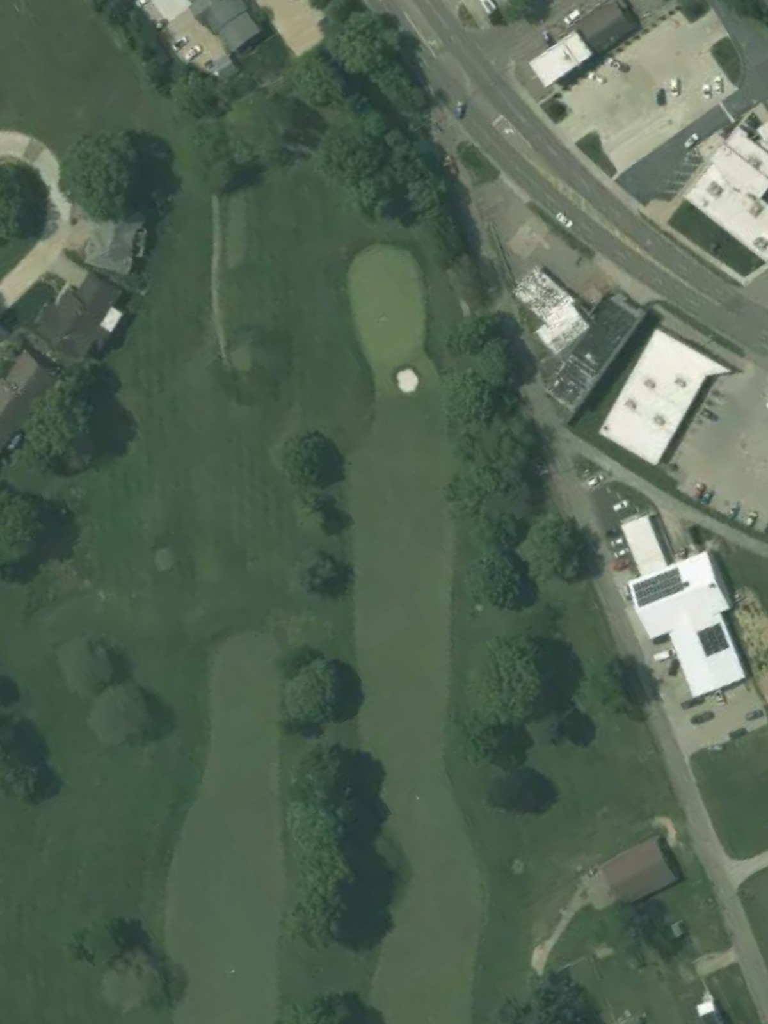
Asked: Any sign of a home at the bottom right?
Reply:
Yes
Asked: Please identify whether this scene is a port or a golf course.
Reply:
golf course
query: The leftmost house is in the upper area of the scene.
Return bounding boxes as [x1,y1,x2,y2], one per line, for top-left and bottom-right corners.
[0,352,53,448]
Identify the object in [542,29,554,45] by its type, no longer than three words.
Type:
vehicle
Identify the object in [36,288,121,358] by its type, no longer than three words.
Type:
house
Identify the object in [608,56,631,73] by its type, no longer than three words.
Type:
vehicle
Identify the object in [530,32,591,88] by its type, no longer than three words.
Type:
building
